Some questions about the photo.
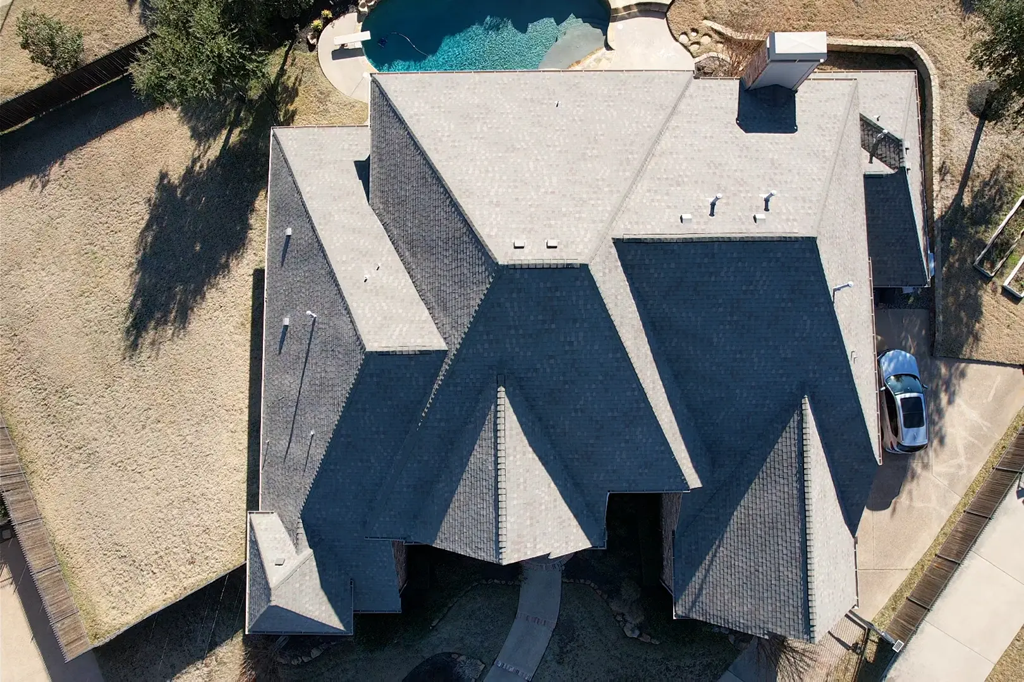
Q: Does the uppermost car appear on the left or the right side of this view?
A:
right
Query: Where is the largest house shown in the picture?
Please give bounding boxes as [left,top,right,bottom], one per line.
[240,30,932,643]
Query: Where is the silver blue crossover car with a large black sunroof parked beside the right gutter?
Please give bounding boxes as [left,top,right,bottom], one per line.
[879,348,936,455]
